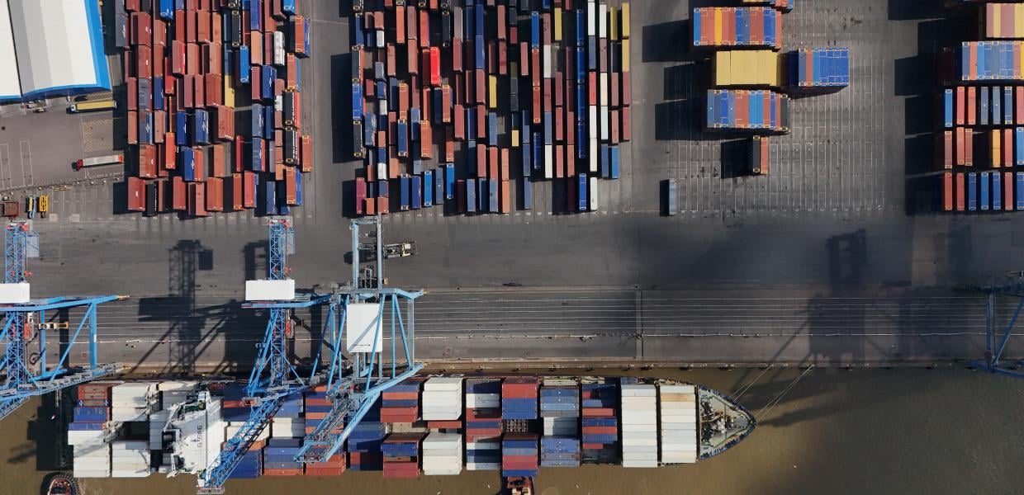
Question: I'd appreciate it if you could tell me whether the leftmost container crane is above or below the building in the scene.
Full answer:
The leftmost container crane is found below the building in the photo.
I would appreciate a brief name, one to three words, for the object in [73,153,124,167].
vehicle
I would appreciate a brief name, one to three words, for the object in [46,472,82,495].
boat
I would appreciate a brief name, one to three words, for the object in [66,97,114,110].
vehicle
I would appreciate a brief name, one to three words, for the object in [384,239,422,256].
work vehicle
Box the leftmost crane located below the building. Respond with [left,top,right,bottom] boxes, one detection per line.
[0,218,140,420]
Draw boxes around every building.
[0,0,117,97]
